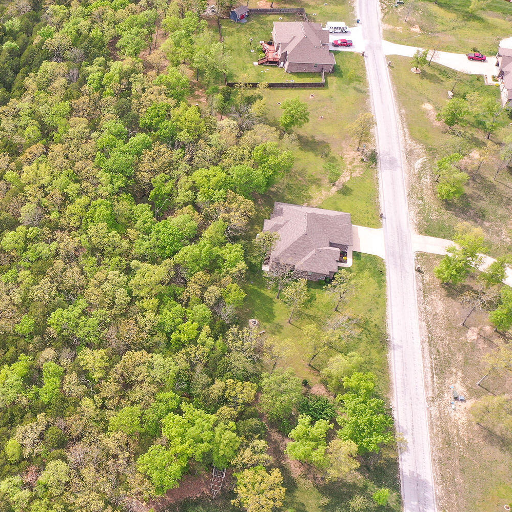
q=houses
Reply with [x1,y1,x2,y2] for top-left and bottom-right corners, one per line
[263,201,353,282]
[273,22,337,72]
[496,47,512,109]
